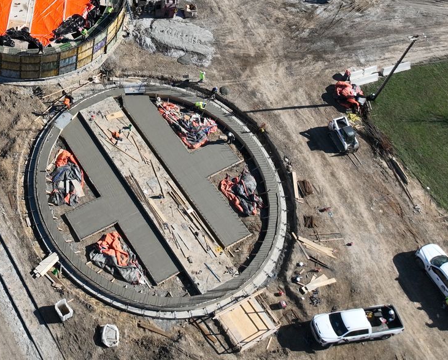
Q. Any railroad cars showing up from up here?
No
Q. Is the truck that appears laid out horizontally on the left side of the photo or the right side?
right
